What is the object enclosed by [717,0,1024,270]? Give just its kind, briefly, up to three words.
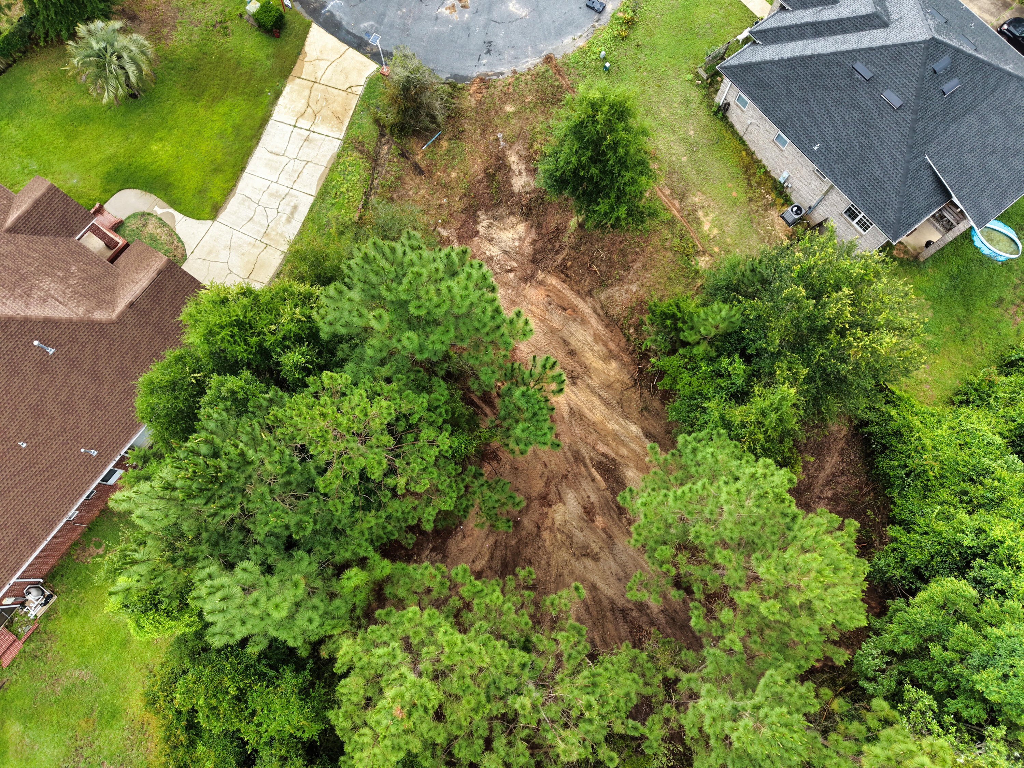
house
